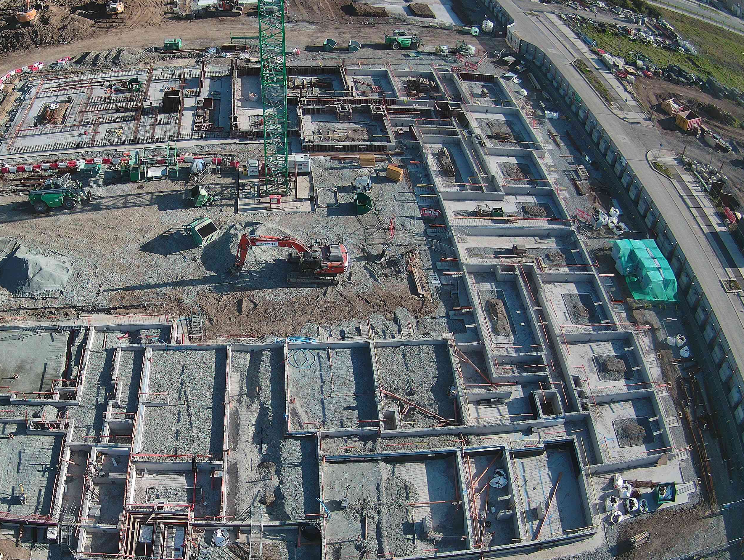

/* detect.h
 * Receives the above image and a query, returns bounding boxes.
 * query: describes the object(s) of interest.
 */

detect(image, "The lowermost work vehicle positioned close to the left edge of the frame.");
[23,172,99,216]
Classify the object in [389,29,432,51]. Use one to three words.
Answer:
work vehicle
